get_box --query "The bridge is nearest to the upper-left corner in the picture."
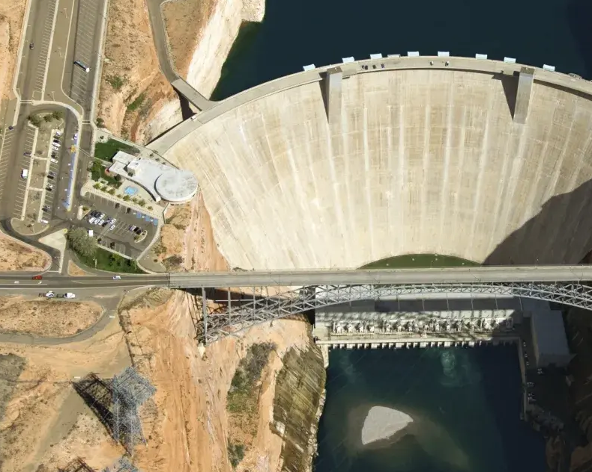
[170,76,214,116]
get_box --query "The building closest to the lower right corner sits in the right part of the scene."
[529,310,574,384]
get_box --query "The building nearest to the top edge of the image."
[108,151,198,208]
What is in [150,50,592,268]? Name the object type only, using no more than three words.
dam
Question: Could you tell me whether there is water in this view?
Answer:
Yes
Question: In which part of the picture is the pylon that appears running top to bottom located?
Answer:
bottom left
